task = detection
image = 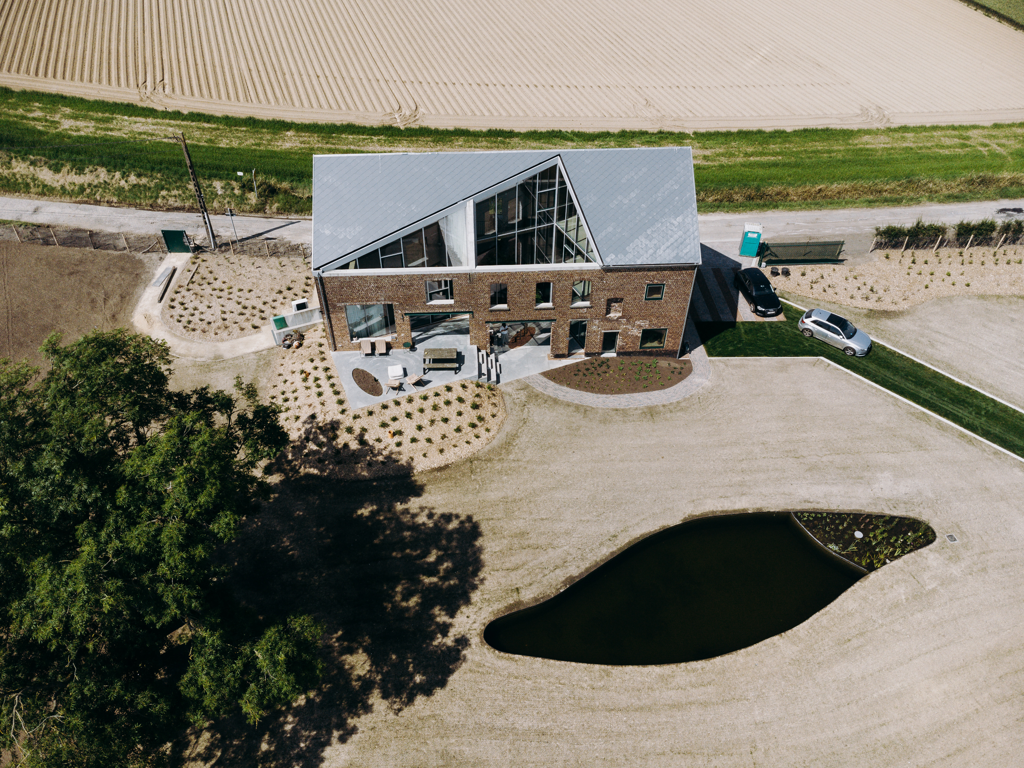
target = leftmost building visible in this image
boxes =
[312,144,703,357]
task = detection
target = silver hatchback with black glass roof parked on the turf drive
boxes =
[798,305,876,358]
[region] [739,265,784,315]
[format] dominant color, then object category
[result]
black car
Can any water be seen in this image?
Yes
